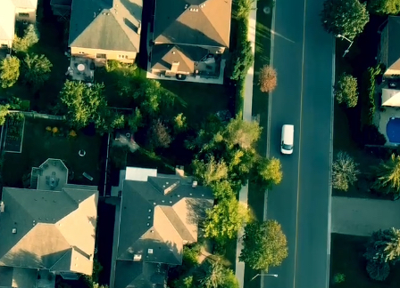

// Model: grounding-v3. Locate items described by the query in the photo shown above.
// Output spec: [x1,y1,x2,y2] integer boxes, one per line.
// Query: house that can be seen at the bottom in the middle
[113,164,213,288]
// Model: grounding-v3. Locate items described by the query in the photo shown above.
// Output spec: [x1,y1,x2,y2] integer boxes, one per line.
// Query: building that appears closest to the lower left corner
[0,184,99,288]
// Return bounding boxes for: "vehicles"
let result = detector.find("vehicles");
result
[281,123,294,157]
